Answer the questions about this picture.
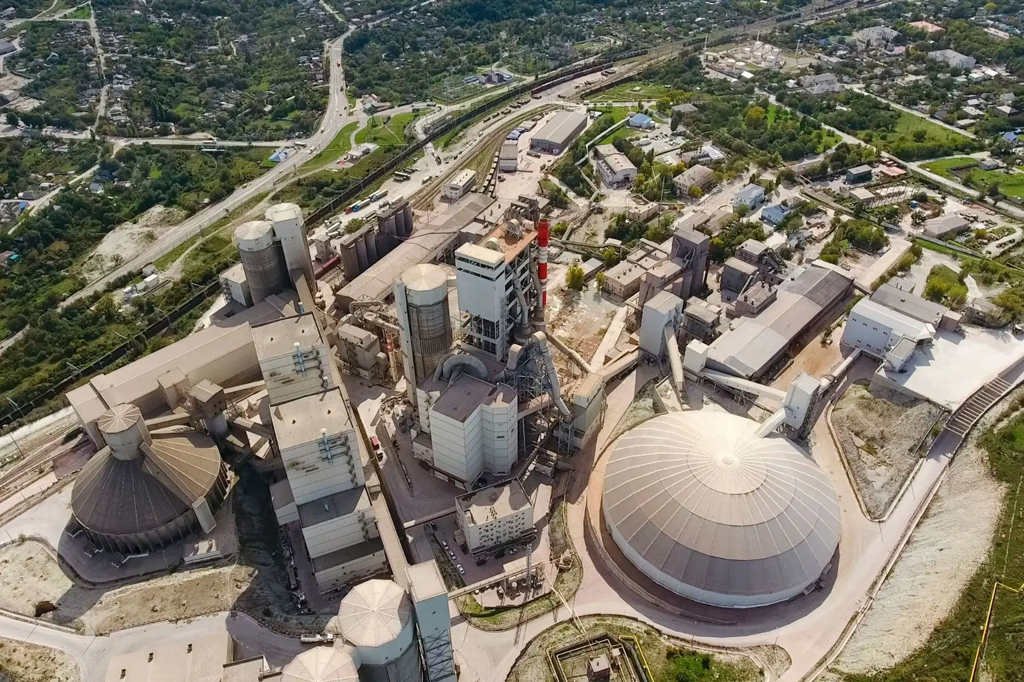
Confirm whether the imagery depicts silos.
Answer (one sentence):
Yes, the picture does show a silo.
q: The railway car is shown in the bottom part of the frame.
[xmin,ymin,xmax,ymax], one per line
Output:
[63,425,85,442]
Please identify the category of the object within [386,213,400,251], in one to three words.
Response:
silo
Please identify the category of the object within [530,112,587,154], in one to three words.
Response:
building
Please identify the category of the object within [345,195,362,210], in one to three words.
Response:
vehicle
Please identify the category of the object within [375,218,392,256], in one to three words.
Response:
silo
